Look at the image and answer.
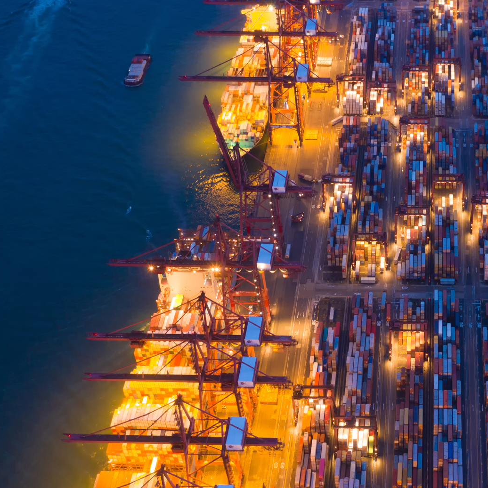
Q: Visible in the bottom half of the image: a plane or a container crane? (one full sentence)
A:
What appears in the bottom half of the image is a container crane.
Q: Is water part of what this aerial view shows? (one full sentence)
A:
Yes, some water is visible.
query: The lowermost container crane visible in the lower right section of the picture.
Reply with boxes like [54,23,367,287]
[330,419,380,458]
